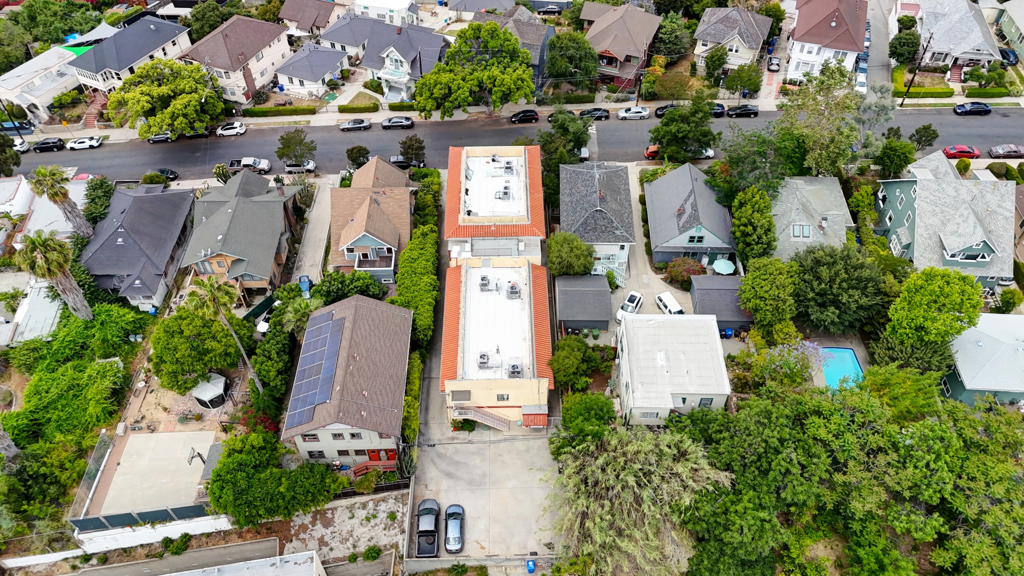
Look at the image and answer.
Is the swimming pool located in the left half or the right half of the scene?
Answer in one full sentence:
The swimming pool sits on the right side.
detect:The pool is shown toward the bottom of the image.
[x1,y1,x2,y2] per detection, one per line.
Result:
[819,345,866,396]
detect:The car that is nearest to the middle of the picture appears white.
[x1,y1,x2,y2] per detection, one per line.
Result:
[615,287,642,322]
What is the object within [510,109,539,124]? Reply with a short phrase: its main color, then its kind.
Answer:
black car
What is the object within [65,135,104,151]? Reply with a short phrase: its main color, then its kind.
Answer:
white car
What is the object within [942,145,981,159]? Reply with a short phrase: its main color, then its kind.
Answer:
red car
